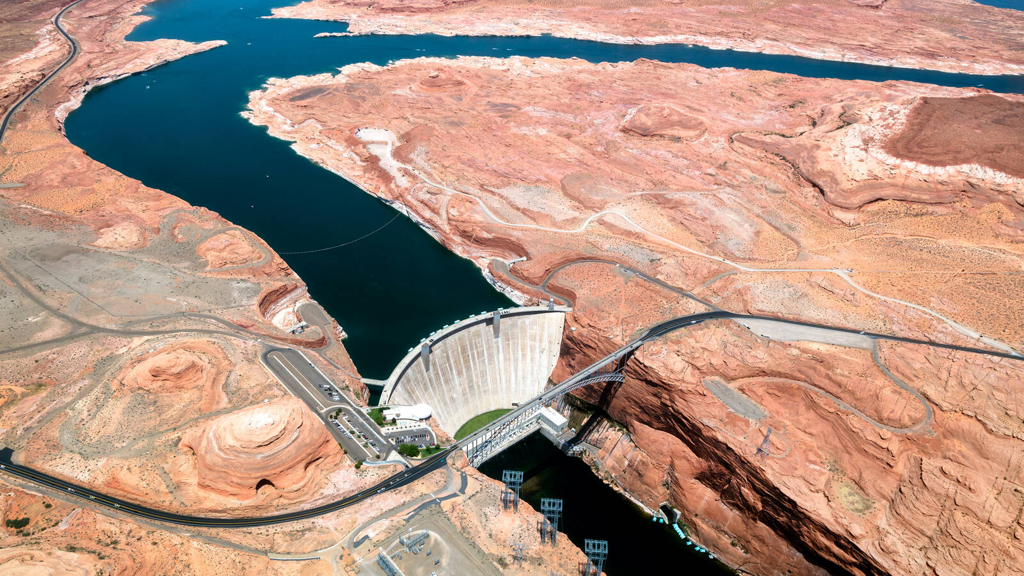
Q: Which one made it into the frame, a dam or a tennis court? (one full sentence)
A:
Of the two, only a dam appears.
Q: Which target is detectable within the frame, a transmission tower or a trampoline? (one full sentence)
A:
The one in the frame is a transmission tower.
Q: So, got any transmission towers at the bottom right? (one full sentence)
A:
Yes, a transmission tower is visible at the bottom right.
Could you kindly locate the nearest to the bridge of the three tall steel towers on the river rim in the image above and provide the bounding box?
[500,467,524,512]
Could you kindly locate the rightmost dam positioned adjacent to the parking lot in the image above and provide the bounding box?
[378,305,571,441]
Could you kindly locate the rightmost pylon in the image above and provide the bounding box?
[754,433,771,462]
